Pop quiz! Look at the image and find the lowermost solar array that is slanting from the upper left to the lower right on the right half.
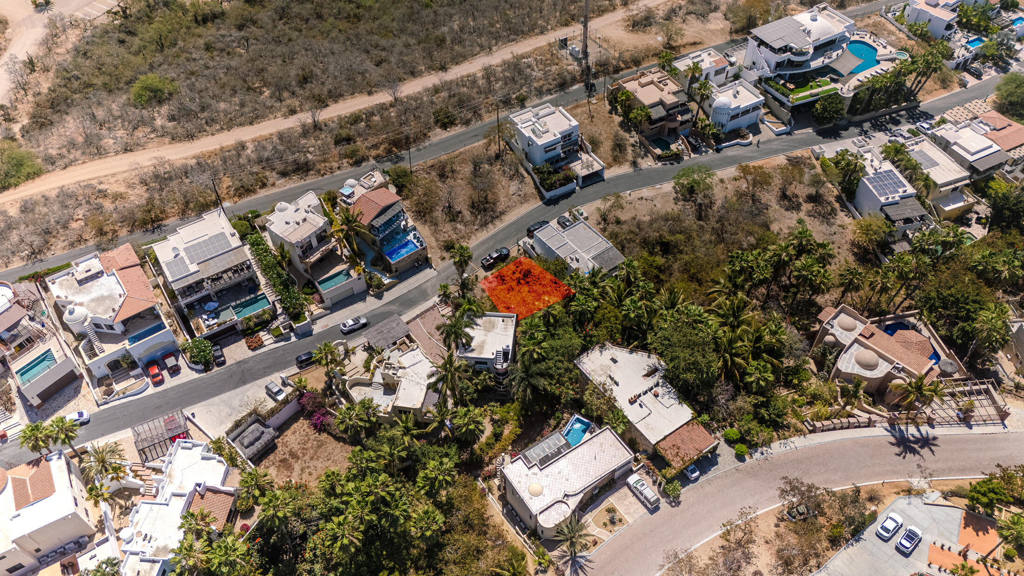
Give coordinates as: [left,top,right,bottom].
[910,149,939,169]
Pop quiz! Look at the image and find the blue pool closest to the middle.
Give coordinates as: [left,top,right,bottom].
[383,239,420,262]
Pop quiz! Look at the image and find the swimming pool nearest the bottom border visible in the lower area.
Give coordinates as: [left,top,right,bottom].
[561,413,593,448]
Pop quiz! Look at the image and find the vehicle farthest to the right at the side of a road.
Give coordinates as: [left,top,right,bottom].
[962,65,984,79]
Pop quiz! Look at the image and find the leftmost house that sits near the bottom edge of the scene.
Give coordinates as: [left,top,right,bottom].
[0,449,126,576]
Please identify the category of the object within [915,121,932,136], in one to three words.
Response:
car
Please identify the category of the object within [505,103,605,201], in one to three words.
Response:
house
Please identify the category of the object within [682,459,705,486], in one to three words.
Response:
car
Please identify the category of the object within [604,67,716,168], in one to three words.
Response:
house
